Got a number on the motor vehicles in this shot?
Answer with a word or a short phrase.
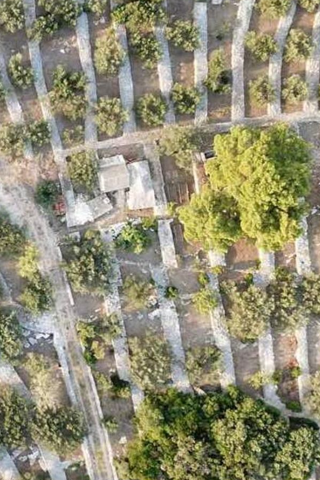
zero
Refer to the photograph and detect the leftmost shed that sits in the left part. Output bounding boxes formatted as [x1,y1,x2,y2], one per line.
[86,194,112,218]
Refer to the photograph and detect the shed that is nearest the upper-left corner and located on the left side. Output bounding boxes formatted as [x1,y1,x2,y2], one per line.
[96,155,129,192]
